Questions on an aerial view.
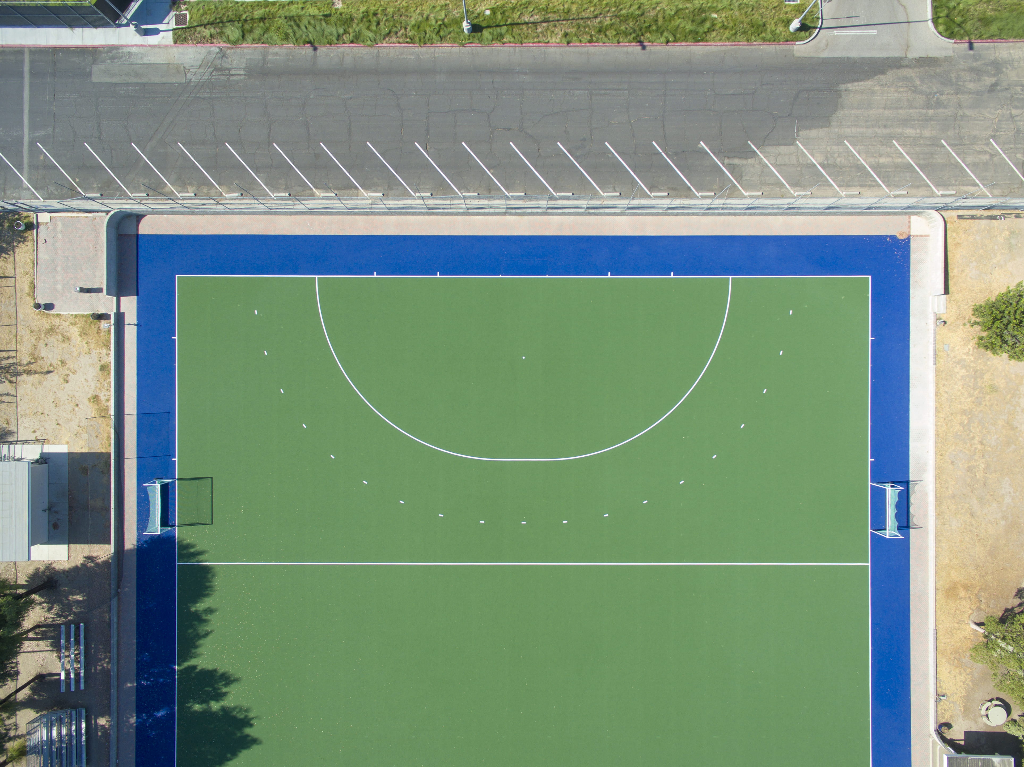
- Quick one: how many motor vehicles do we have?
0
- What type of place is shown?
sports ground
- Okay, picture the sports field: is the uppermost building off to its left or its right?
to the left of it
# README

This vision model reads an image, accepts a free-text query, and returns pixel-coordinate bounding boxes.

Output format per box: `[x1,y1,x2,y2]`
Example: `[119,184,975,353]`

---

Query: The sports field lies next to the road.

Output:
[176,276,871,767]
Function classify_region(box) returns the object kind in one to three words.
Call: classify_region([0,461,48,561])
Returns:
building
